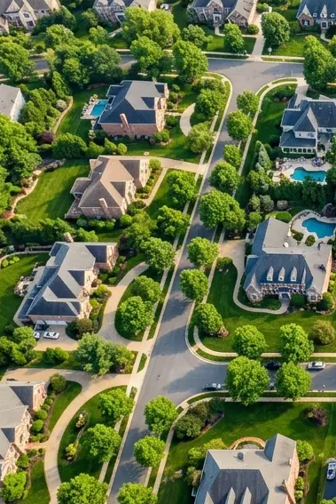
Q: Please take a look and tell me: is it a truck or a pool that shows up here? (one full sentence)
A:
It is a pool that can be seen here.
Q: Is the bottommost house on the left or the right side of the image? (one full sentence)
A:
The bottommost house appears in the right half of the scene.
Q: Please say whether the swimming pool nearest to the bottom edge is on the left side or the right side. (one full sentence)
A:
The swimming pool nearest to the bottom edge is on the right side of the image.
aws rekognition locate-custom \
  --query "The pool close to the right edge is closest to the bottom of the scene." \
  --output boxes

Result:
[301,216,336,240]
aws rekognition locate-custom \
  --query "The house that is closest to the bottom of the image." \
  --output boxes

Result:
[195,434,306,504]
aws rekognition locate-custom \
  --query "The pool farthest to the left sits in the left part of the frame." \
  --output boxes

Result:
[88,99,108,118]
